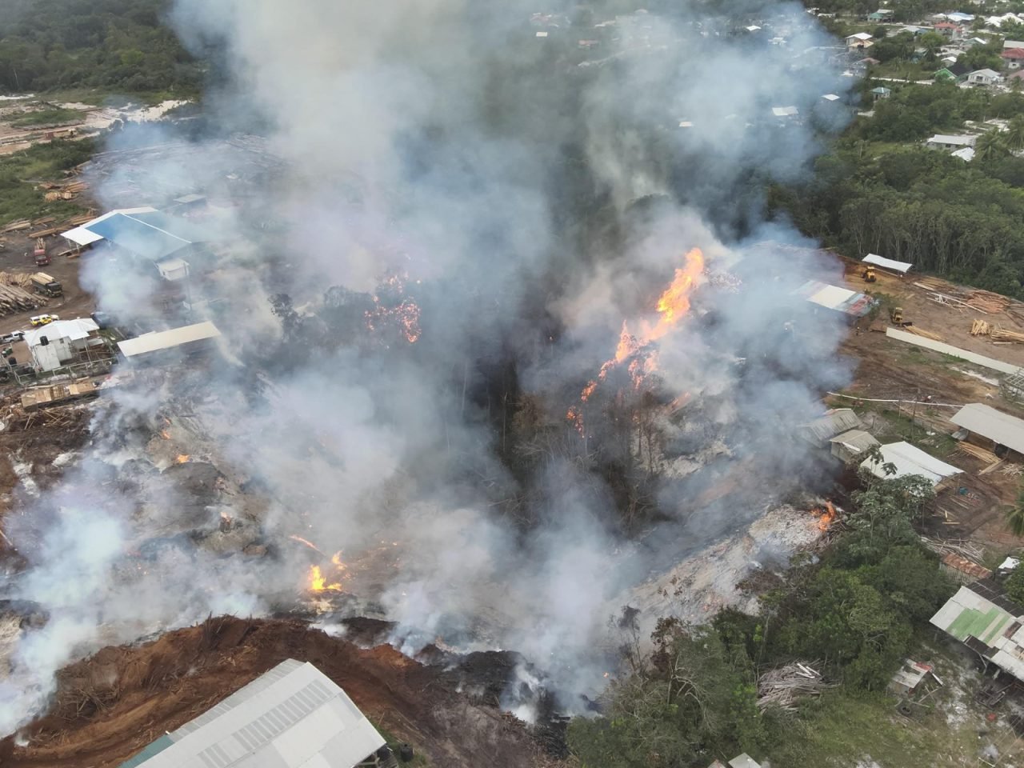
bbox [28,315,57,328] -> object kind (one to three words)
vehicle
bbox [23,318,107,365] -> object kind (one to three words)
house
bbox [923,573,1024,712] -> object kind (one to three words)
building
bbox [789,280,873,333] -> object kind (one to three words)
shed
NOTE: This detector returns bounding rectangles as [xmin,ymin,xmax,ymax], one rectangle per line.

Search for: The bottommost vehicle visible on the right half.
[889,307,911,330]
